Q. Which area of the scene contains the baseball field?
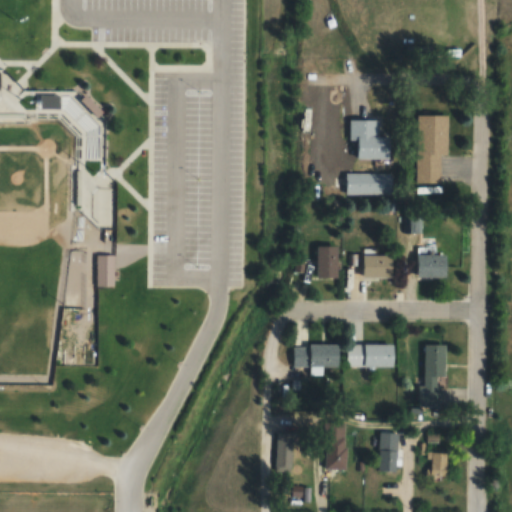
left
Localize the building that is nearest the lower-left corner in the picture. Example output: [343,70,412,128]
[98,255,116,288]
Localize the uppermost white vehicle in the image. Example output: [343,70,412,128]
[326,14,338,31]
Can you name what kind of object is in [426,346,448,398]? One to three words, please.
building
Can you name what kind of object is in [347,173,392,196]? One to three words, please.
barn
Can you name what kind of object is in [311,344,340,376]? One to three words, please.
house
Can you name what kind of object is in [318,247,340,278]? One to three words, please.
house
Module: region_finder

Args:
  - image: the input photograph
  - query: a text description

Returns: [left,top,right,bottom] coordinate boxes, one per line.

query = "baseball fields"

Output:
[0,122,72,384]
